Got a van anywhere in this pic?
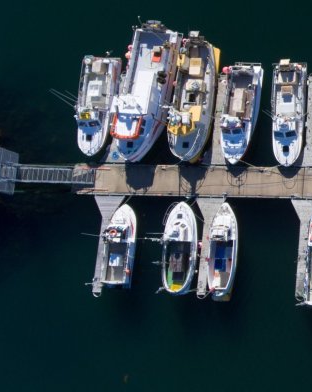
No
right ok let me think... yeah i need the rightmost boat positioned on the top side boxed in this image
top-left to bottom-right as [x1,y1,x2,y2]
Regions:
[265,62,306,167]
